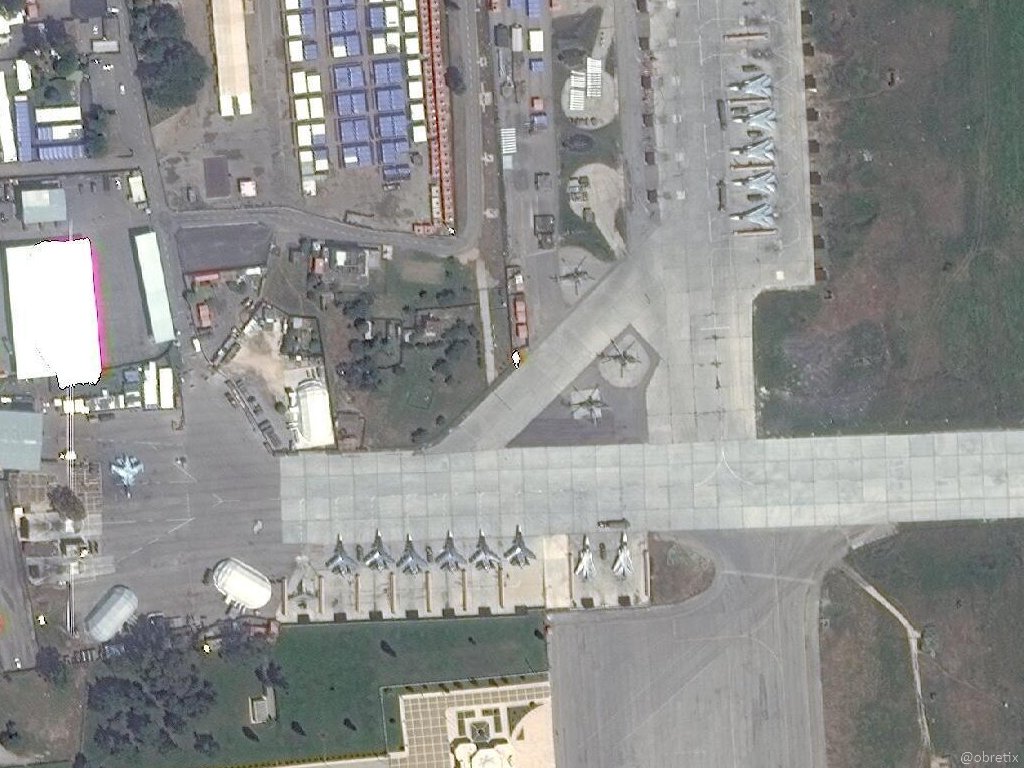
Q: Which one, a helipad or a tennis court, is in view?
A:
helipad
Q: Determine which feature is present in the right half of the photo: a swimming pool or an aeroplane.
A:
aeroplane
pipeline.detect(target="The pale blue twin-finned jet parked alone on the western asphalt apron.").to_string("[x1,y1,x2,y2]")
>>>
[112,453,144,497]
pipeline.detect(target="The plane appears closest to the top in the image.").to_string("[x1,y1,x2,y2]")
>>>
[731,76,774,99]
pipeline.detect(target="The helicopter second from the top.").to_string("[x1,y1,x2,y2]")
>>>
[596,340,642,378]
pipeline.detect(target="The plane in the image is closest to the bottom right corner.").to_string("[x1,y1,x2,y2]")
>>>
[615,533,634,577]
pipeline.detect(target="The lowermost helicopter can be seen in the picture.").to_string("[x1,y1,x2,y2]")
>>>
[564,383,610,422]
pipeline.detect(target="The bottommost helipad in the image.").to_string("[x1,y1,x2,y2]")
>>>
[571,388,601,418]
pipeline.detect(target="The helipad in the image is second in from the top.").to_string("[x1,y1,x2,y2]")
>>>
[598,334,650,388]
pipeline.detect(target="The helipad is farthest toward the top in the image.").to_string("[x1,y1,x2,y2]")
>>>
[556,243,614,304]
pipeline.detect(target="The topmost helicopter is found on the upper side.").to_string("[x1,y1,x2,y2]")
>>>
[550,257,596,296]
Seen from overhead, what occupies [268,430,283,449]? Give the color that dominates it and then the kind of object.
gray vehicle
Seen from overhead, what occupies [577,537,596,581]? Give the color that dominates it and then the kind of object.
white airplane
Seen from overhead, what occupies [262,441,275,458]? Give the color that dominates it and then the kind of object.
gray vehicle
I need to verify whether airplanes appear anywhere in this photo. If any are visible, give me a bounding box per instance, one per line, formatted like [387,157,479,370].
[112,453,144,497]
[506,525,538,569]
[733,107,777,130]
[730,205,775,228]
[733,171,776,194]
[327,534,359,577]
[615,533,634,577]
[287,555,318,597]
[471,529,501,573]
[366,529,397,572]
[436,530,468,574]
[731,139,774,163]
[731,76,774,99]
[398,535,428,576]
[577,537,596,581]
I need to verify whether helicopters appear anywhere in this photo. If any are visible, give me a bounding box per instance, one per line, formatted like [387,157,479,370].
[550,257,596,296]
[564,383,610,422]
[596,340,642,378]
